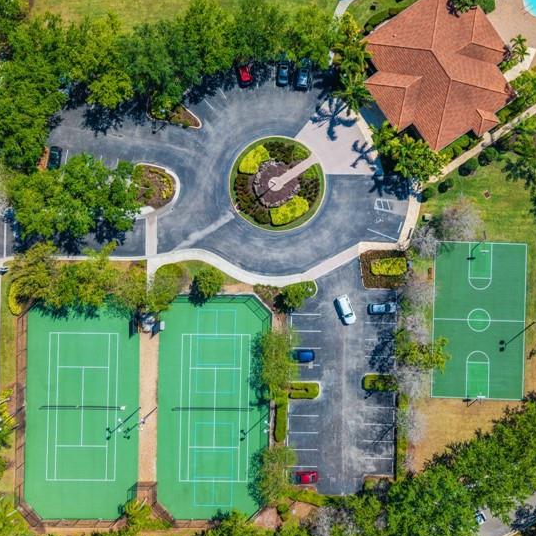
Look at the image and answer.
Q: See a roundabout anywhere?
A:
Yes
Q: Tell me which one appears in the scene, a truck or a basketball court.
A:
basketball court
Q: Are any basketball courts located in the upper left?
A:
No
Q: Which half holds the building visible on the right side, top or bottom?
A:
top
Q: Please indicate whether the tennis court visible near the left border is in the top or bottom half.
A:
bottom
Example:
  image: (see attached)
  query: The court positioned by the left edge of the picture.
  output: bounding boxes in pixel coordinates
[24,296,140,520]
